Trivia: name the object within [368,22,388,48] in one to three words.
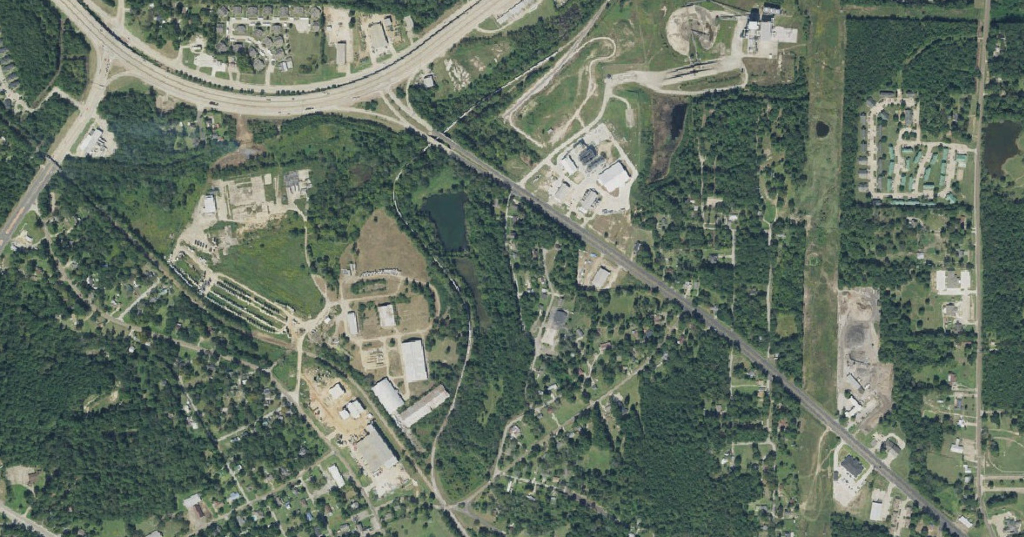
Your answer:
building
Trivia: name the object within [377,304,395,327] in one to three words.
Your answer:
building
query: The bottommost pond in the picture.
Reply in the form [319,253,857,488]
[422,191,468,251]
